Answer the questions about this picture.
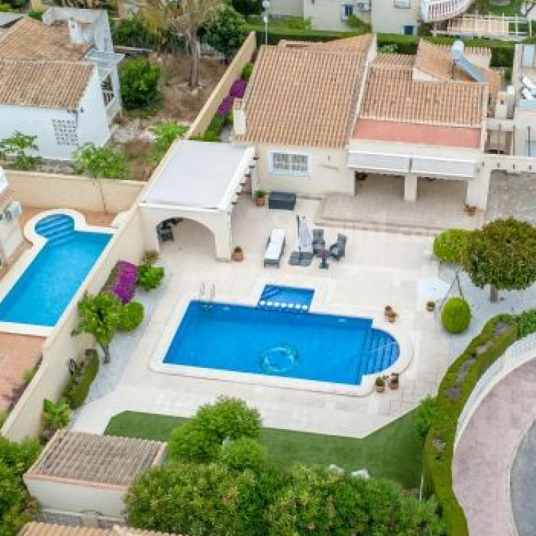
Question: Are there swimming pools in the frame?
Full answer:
Yes, a swimming pool can be made out from above.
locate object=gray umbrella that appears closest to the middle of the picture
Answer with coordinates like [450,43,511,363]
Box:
[289,211,313,266]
